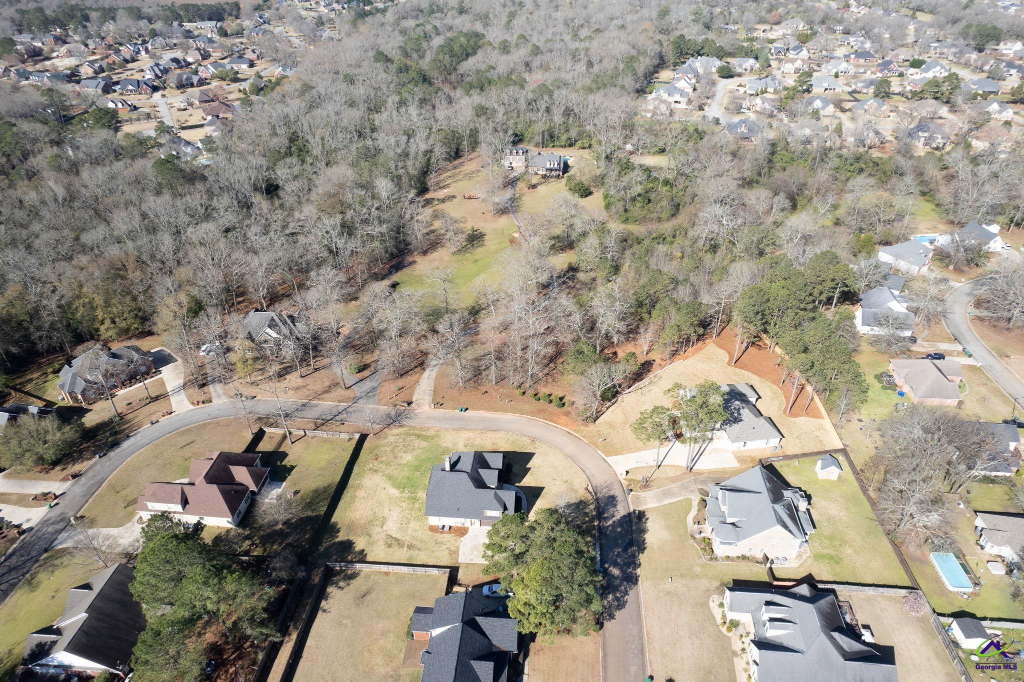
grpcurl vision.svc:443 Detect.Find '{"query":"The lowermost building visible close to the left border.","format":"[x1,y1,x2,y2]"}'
[21,559,164,682]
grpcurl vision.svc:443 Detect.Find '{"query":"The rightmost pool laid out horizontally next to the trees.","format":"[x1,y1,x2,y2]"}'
[901,232,950,249]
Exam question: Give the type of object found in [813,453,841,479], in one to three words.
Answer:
shed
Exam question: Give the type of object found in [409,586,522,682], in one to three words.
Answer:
house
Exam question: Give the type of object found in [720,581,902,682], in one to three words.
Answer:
house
